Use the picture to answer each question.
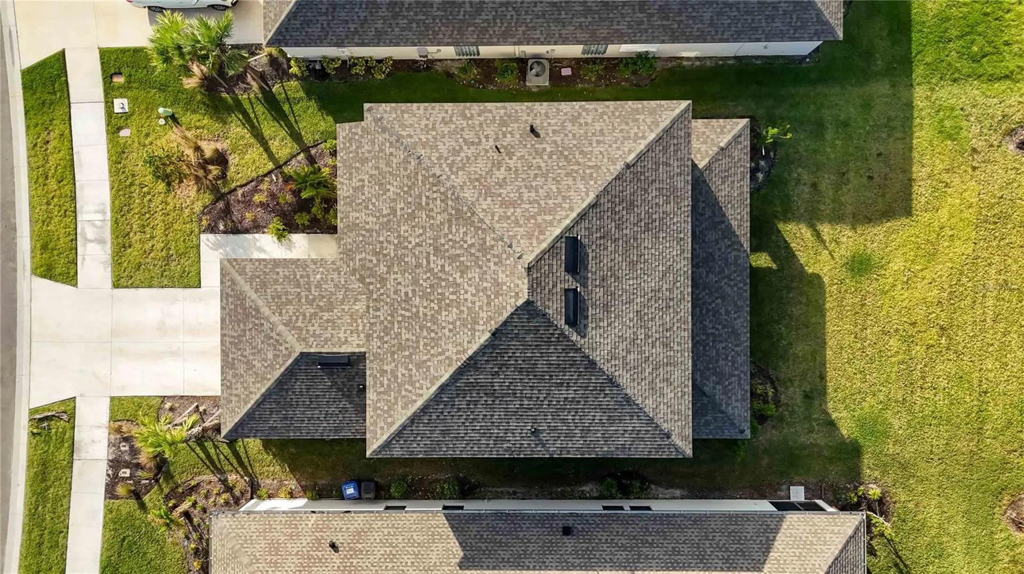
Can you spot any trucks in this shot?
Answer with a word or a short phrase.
No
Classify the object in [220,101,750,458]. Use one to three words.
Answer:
house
